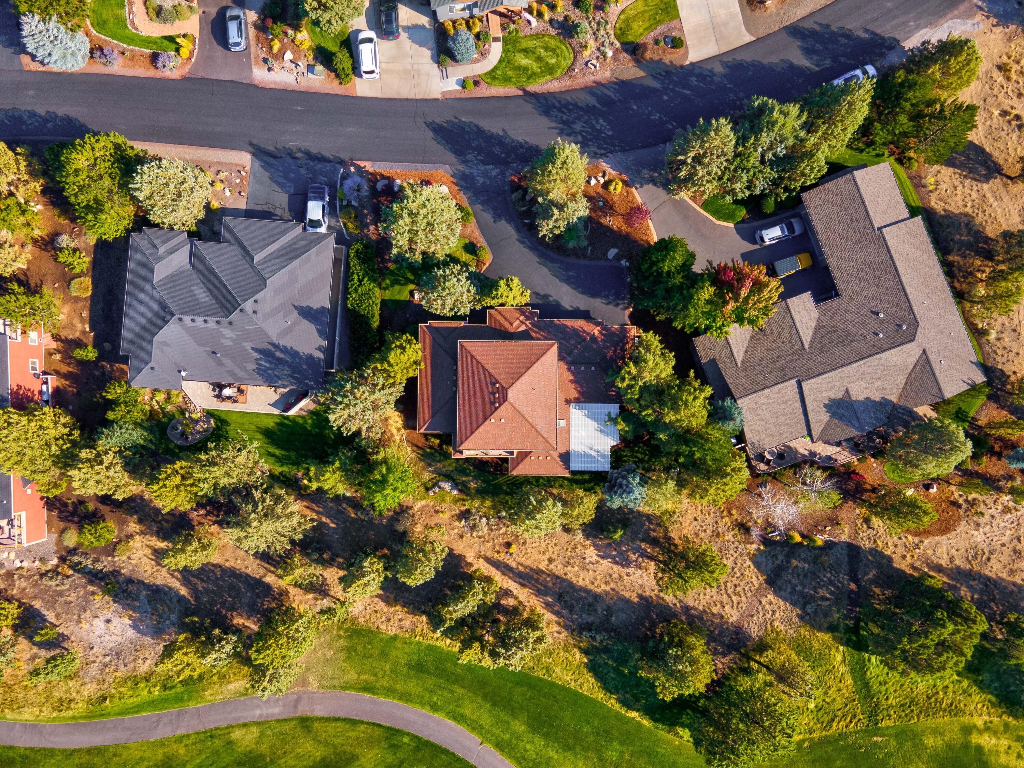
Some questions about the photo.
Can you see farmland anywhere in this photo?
No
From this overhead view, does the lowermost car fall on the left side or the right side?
right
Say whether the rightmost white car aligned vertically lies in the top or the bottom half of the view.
top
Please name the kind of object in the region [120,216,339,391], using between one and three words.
house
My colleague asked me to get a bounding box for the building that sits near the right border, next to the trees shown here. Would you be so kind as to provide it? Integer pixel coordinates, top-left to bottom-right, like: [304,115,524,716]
[692,160,987,457]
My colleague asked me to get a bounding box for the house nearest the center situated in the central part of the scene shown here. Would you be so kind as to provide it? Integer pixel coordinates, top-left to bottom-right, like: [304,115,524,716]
[417,306,637,476]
